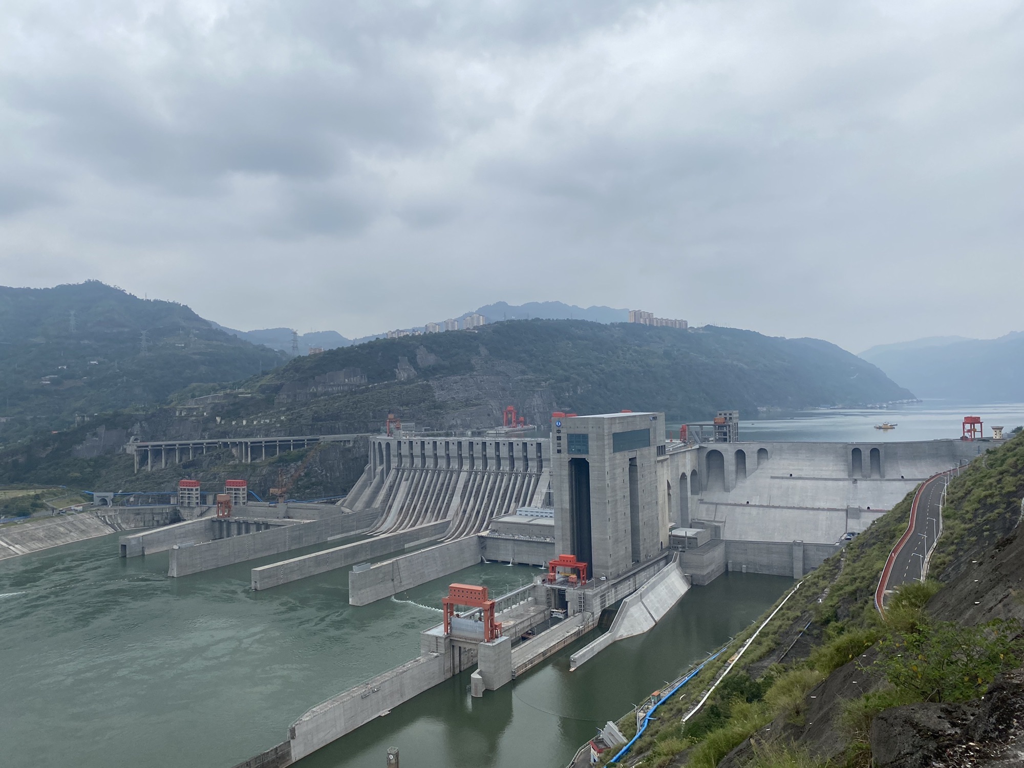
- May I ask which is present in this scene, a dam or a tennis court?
dam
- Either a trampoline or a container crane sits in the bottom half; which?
container crane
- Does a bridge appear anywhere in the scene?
Yes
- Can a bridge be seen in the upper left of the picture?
No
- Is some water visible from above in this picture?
Yes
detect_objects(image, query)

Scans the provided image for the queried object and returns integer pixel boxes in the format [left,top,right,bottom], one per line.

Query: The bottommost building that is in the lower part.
[580,739,609,768]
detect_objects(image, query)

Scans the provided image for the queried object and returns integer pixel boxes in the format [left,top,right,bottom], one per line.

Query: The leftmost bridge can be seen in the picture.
[123,433,370,470]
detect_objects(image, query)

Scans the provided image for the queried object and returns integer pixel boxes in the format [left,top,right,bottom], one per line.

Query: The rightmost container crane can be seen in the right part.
[955,416,983,440]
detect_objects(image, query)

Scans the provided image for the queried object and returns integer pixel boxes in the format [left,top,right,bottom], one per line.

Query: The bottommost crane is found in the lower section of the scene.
[441,582,499,642]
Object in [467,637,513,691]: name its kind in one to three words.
pier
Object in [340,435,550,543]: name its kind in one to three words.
dam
